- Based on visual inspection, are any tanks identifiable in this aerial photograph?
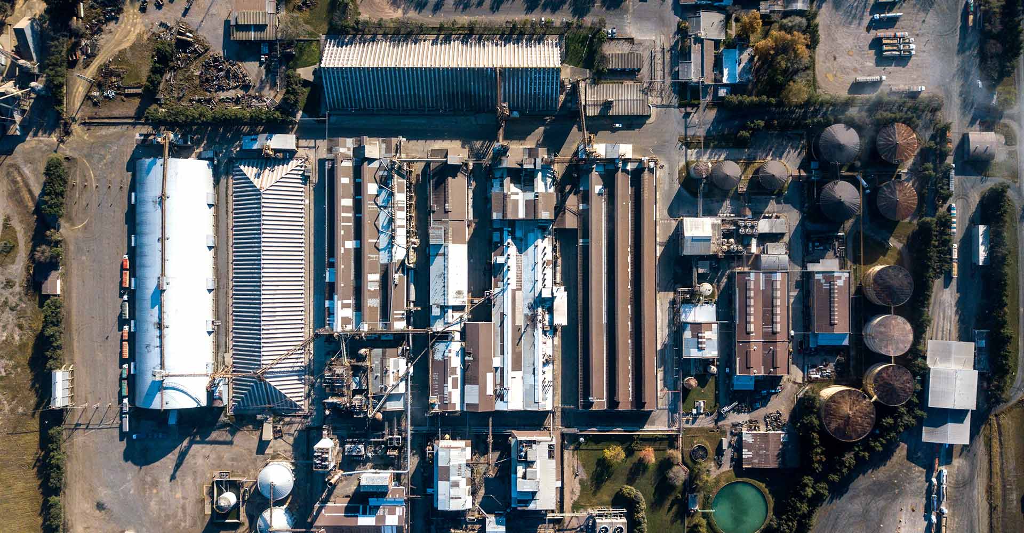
Yes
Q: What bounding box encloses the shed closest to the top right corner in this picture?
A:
[960,133,997,162]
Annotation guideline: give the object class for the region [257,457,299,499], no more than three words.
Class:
storage tank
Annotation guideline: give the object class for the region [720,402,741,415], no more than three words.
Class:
vehicle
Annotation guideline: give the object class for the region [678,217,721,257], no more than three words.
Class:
house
